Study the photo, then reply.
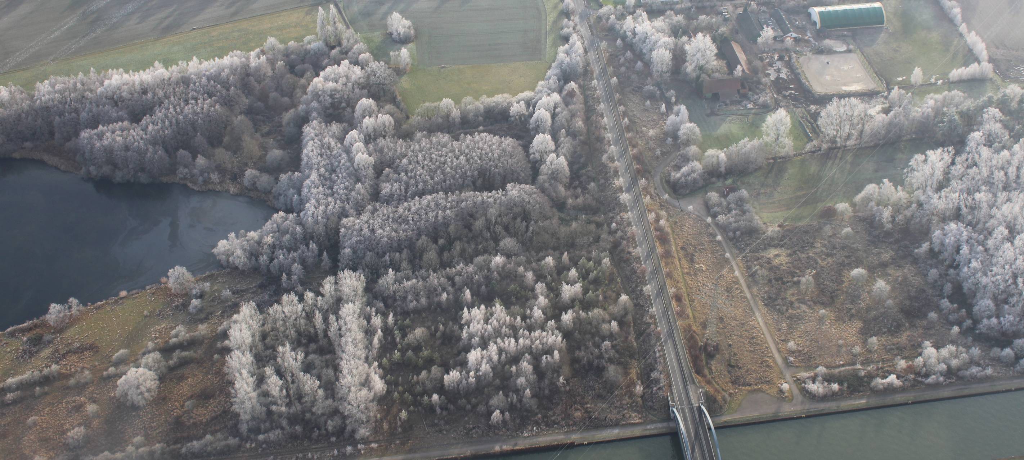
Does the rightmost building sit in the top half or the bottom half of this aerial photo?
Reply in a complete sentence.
Seen from above, the rightmost building lies in the top half of the view.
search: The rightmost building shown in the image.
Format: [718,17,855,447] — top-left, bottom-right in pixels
[809,2,885,29]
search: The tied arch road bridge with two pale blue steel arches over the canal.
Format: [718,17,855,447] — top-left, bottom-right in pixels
[667,389,724,460]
